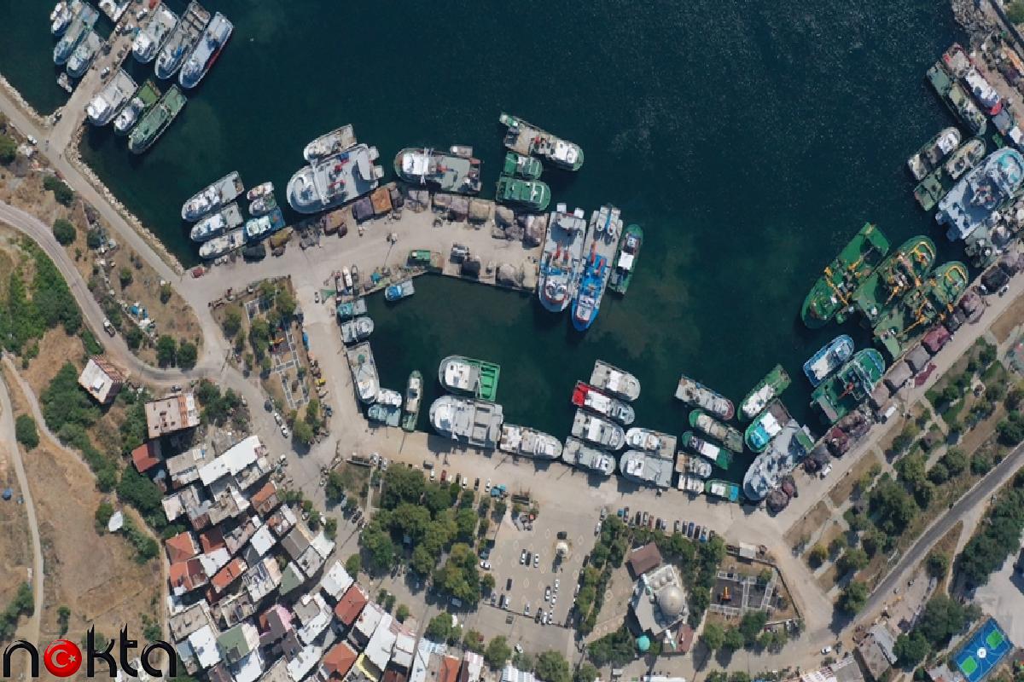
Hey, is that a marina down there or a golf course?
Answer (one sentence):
It's a marina.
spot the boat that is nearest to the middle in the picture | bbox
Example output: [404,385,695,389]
[438,356,502,402]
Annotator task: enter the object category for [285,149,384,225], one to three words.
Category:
boat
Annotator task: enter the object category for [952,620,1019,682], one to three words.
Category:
sports court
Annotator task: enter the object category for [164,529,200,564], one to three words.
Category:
house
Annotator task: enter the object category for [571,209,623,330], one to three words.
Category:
boat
